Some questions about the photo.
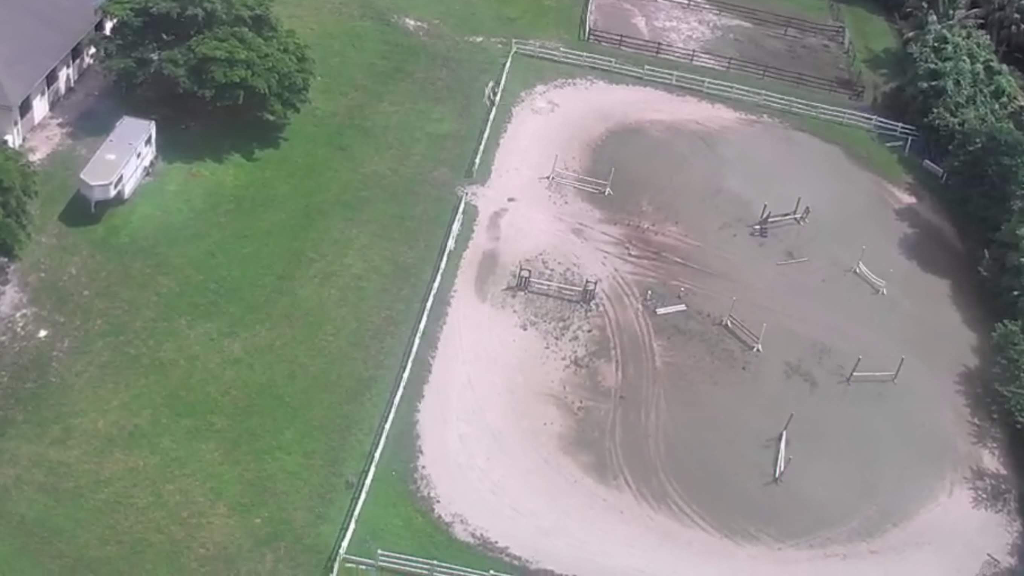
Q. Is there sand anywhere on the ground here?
Yes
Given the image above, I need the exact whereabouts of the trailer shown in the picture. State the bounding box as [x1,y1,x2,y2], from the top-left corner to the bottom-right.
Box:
[83,116,156,214]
